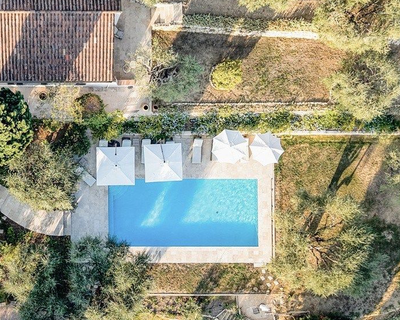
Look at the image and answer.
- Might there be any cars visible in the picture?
No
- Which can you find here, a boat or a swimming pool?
swimming pool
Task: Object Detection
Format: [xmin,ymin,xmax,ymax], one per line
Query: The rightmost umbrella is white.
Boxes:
[250,130,284,165]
